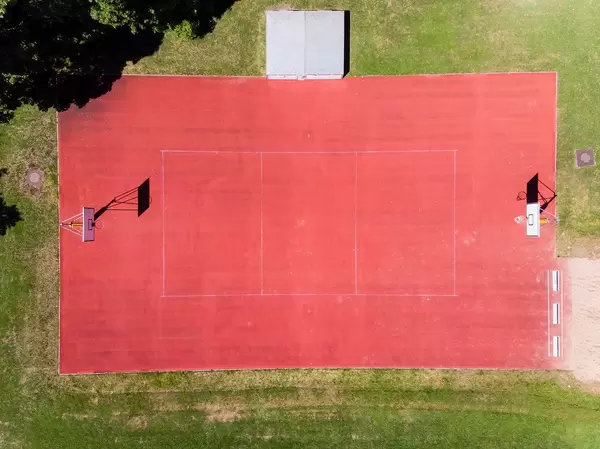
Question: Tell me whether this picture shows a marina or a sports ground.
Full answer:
The area seen from above is a sports ground.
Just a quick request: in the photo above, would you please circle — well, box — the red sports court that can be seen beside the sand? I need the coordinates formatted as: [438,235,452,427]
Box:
[56,71,574,376]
